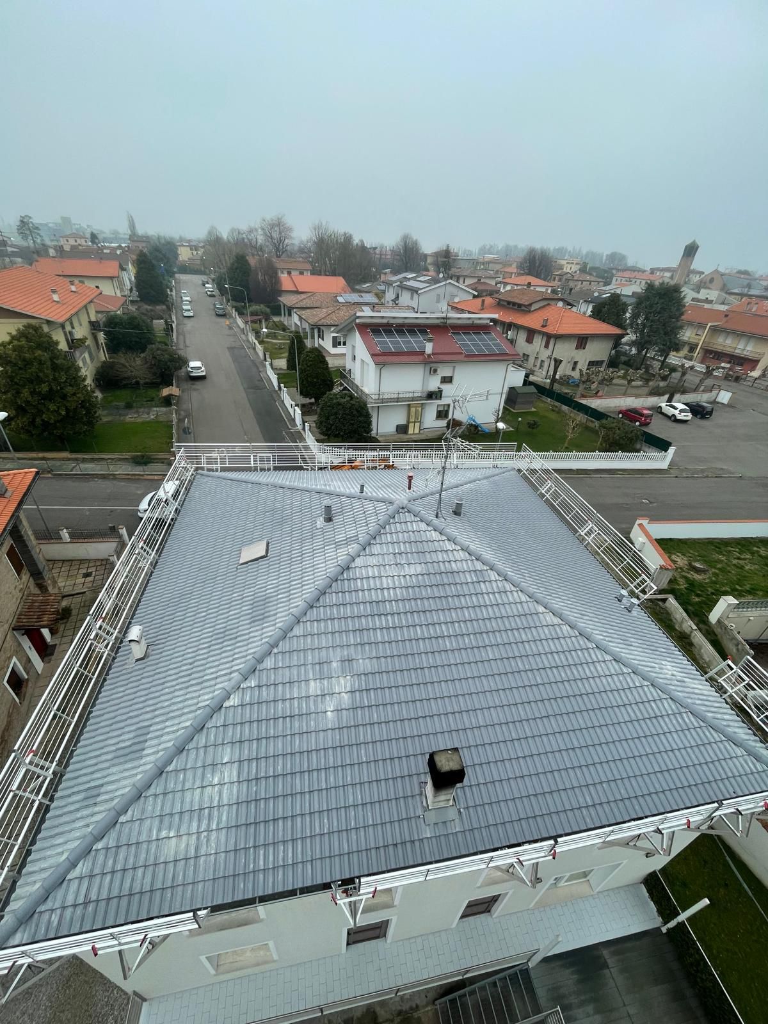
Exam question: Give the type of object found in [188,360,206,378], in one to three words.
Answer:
car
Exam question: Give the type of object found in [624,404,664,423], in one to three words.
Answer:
car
